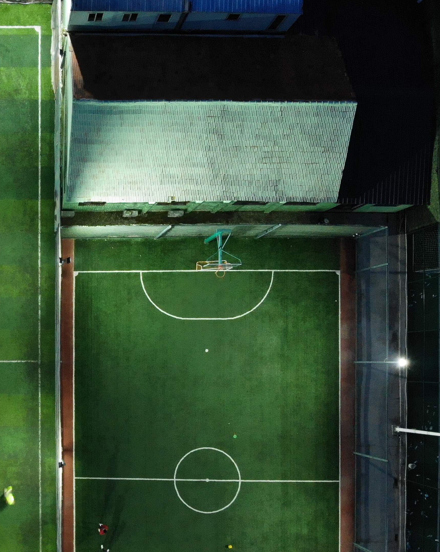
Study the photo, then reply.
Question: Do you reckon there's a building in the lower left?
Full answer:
No, no building appears in the lower left.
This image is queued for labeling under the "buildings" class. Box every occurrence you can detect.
[68,0,189,33]
[65,34,358,216]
